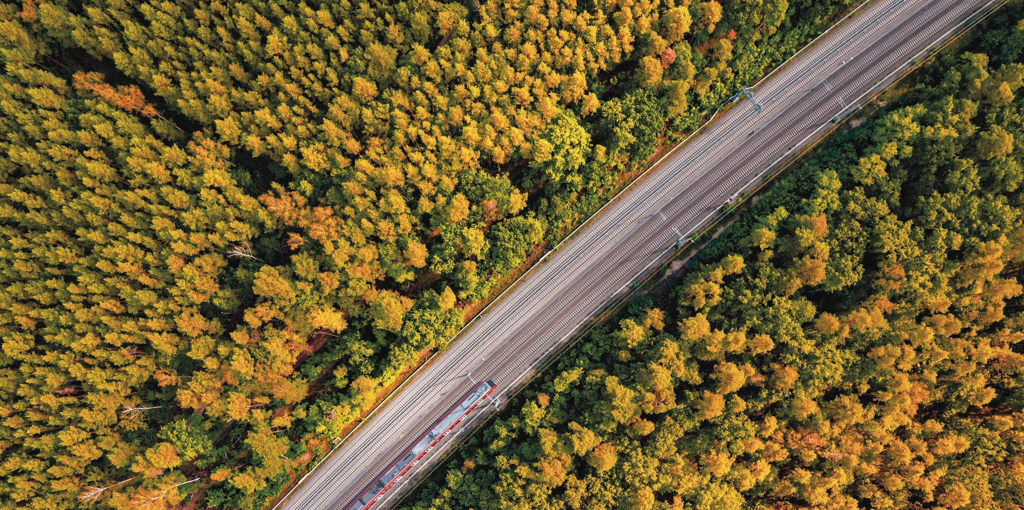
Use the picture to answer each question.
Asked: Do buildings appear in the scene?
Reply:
No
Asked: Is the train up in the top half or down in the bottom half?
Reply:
bottom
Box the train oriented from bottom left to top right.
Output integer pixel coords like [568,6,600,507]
[350,379,498,510]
